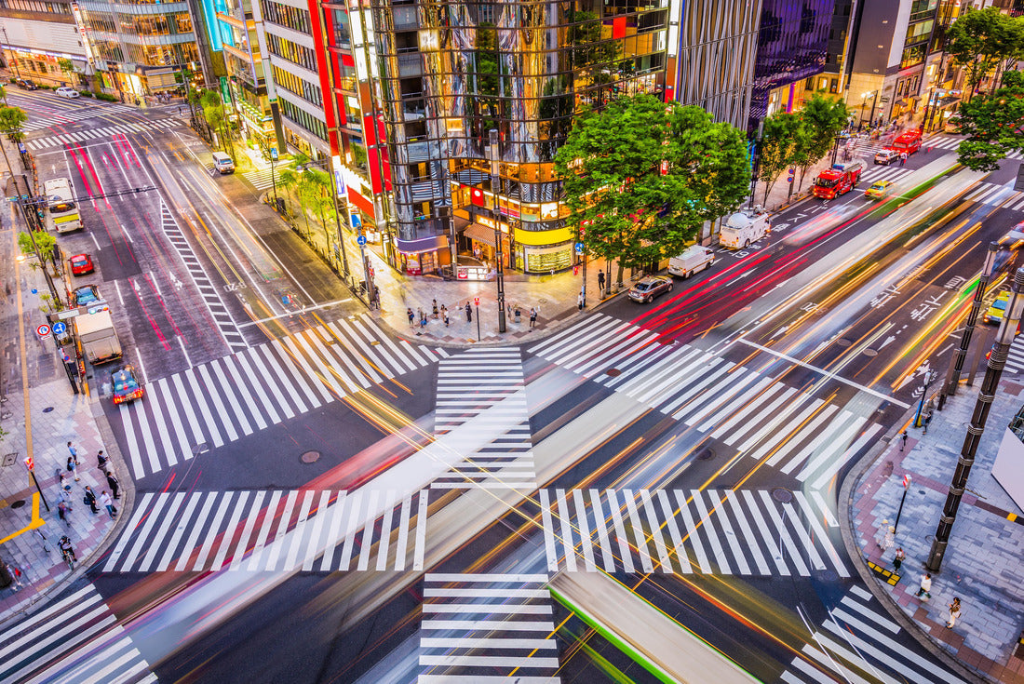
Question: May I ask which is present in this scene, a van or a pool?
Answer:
van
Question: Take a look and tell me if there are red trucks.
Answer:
Yes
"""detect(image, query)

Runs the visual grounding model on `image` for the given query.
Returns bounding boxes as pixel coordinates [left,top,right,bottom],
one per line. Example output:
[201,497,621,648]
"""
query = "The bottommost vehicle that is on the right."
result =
[550,558,725,684]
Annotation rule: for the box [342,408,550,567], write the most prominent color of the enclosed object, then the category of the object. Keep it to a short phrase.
white bus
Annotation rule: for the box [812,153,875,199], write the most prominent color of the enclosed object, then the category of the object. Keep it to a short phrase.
red truck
